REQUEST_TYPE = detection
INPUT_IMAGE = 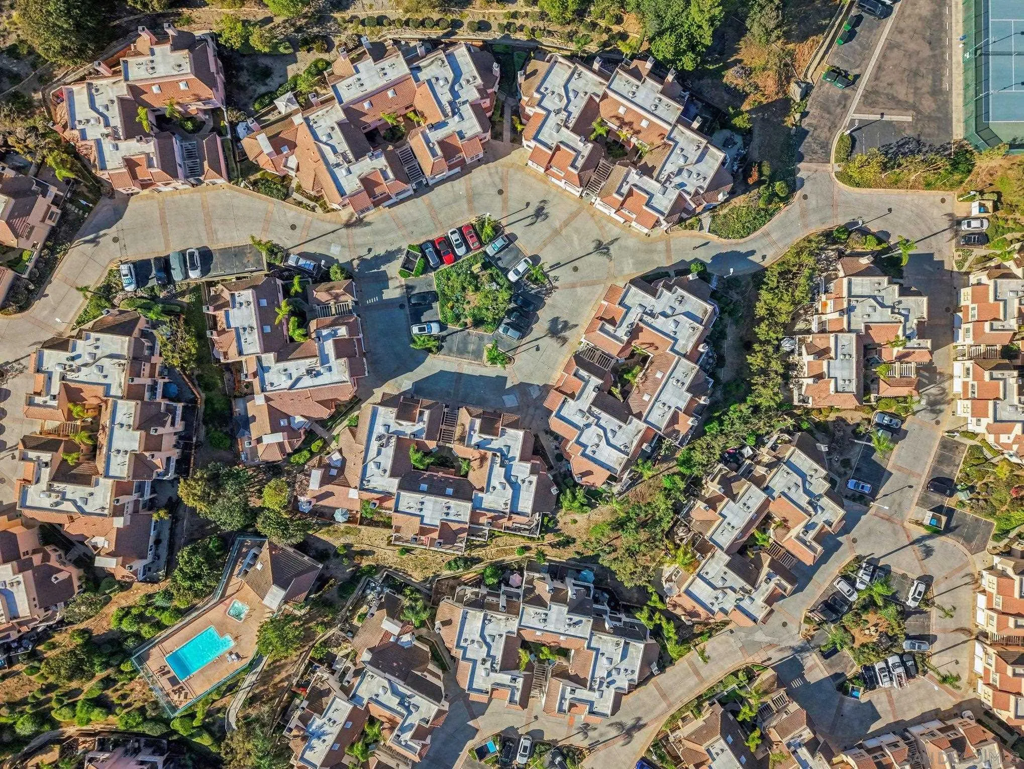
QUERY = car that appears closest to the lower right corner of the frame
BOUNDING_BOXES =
[955,700,979,726]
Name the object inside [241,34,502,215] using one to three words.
building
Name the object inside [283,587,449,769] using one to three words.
building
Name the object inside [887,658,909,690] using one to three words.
truck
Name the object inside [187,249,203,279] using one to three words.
car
